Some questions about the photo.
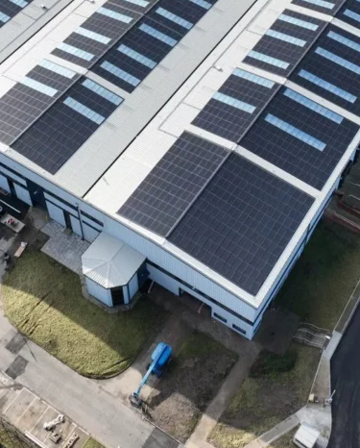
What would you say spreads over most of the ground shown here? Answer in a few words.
buildings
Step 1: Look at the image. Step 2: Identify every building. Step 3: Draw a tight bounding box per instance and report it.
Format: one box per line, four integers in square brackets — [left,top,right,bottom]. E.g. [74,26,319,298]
[289,409,325,448]
[0,0,360,341]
